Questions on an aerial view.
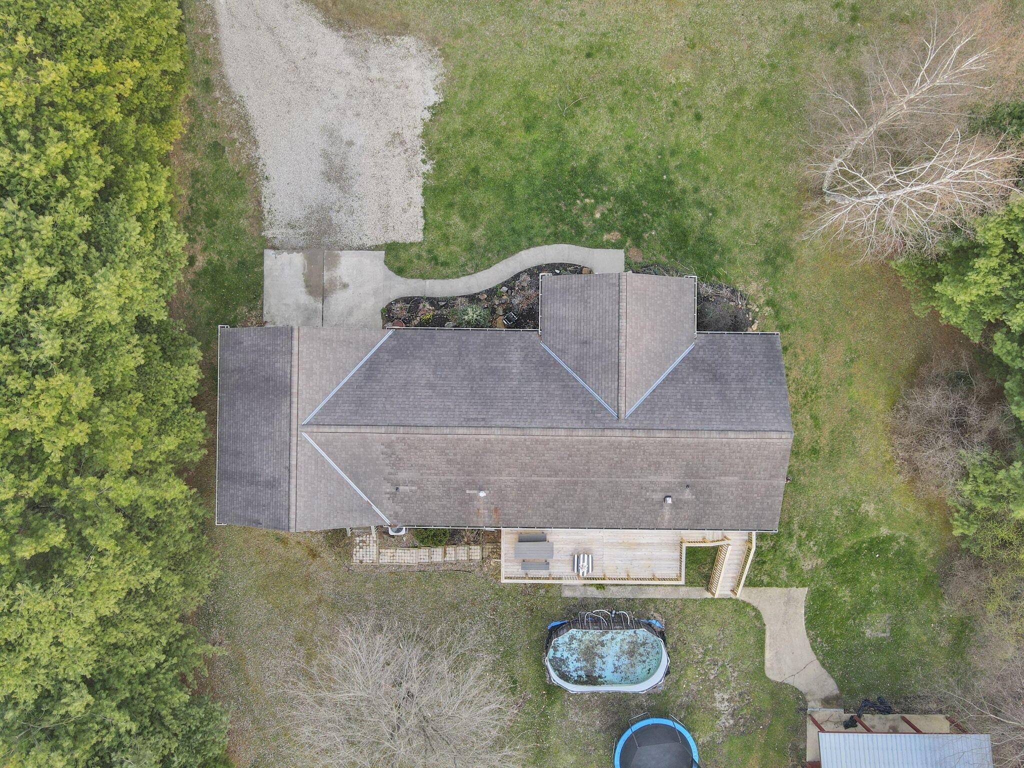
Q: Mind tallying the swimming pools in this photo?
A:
1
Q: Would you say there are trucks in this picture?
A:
No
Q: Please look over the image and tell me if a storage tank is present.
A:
No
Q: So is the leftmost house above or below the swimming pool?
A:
above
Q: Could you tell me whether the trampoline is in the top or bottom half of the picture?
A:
bottom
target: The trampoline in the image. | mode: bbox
[613,712,705,768]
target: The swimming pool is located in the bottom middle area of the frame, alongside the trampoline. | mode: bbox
[541,612,671,694]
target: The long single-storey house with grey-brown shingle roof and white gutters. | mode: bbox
[217,272,793,534]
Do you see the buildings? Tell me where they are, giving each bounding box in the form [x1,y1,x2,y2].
[806,714,997,768]
[217,272,793,534]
